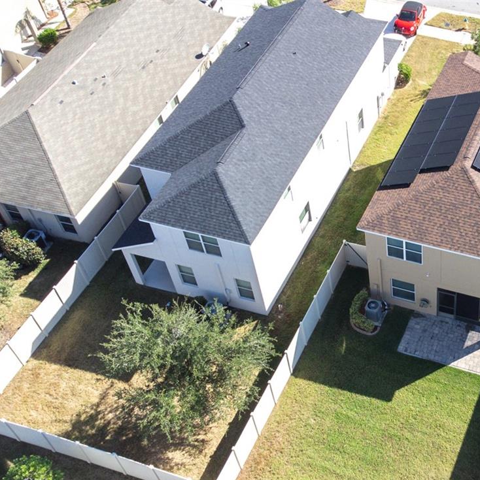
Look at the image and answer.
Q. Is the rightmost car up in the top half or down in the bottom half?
top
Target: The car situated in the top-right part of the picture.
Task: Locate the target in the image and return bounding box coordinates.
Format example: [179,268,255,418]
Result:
[395,0,431,34]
